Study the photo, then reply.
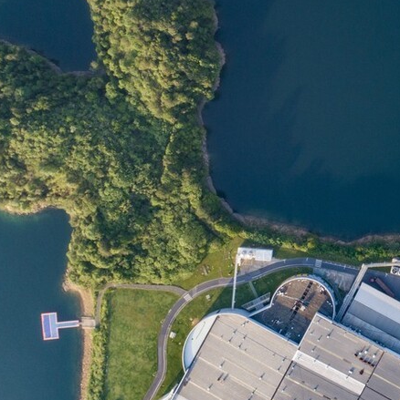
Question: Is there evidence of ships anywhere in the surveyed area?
No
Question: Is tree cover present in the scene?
Yes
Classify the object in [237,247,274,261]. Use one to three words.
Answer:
building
